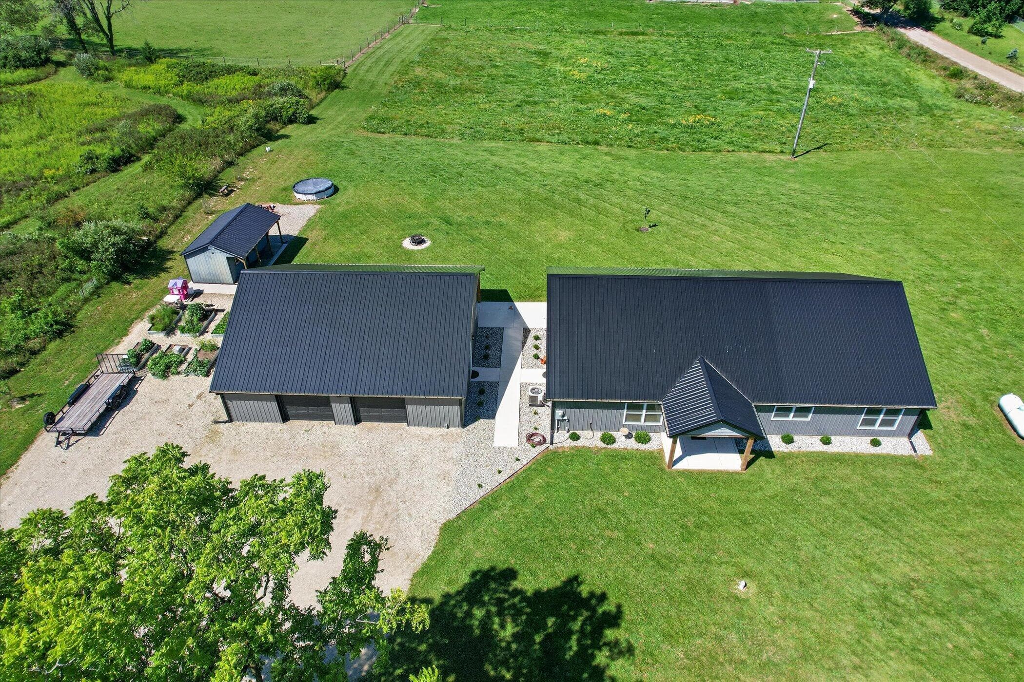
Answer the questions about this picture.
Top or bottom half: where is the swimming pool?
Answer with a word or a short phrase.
top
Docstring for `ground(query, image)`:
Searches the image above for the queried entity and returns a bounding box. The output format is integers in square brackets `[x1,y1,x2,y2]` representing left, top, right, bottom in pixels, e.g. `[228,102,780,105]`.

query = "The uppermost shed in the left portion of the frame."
[180,203,283,283]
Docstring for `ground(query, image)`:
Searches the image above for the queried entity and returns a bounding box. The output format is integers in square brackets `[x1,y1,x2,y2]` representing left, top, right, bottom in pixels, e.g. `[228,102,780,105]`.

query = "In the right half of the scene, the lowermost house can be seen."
[546,268,939,472]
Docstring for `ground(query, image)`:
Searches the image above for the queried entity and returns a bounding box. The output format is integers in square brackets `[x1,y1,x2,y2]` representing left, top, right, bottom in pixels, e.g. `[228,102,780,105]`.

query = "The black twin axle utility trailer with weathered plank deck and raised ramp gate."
[40,355,136,455]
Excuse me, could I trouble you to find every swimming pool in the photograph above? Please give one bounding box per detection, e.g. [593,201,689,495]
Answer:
[291,170,338,198]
